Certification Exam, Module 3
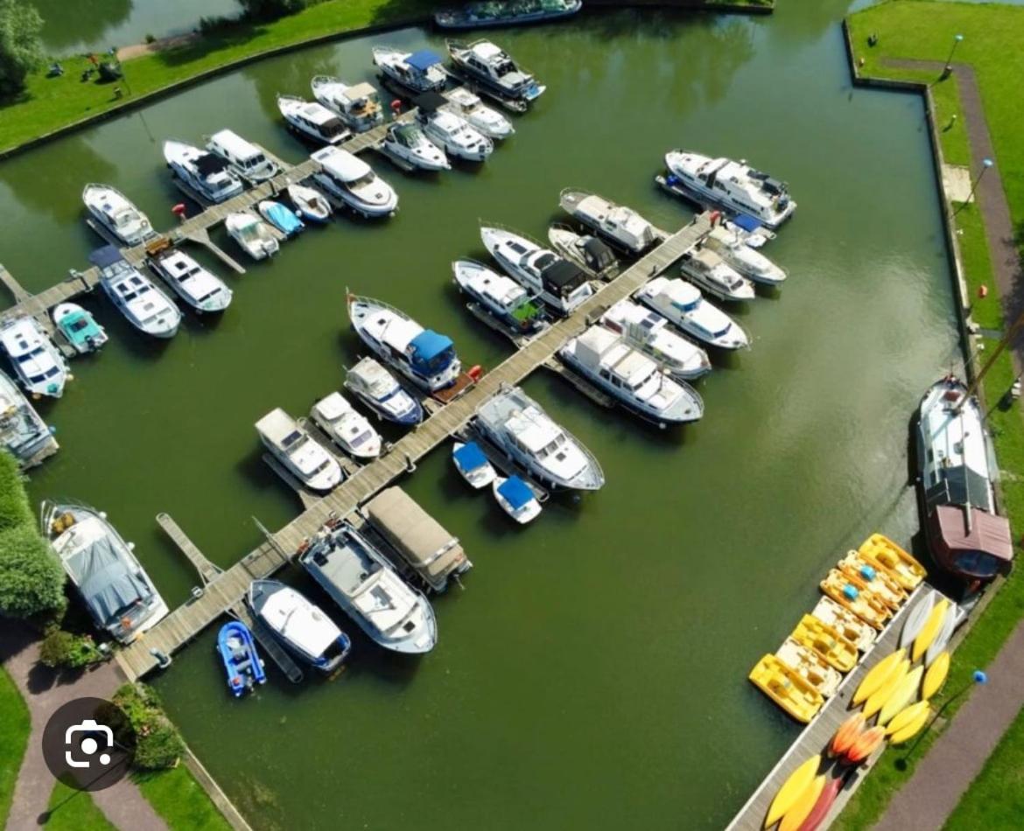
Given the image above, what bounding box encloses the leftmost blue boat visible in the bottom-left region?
[204,600,269,696]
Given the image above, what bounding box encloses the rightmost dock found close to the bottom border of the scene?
[722,582,967,831]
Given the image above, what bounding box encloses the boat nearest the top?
[437,0,584,28]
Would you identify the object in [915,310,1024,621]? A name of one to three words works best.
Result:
ship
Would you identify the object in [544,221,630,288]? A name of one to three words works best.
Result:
boat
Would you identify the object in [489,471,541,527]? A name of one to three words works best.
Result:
boat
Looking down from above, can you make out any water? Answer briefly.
Yes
